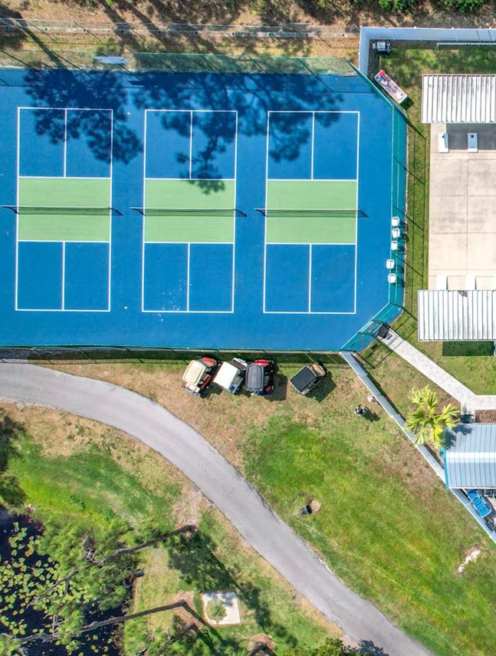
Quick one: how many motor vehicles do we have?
4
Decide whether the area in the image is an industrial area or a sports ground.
sports ground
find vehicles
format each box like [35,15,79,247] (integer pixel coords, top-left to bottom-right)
[283,360,328,397]
[206,355,249,397]
[176,354,218,397]
[242,356,274,398]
